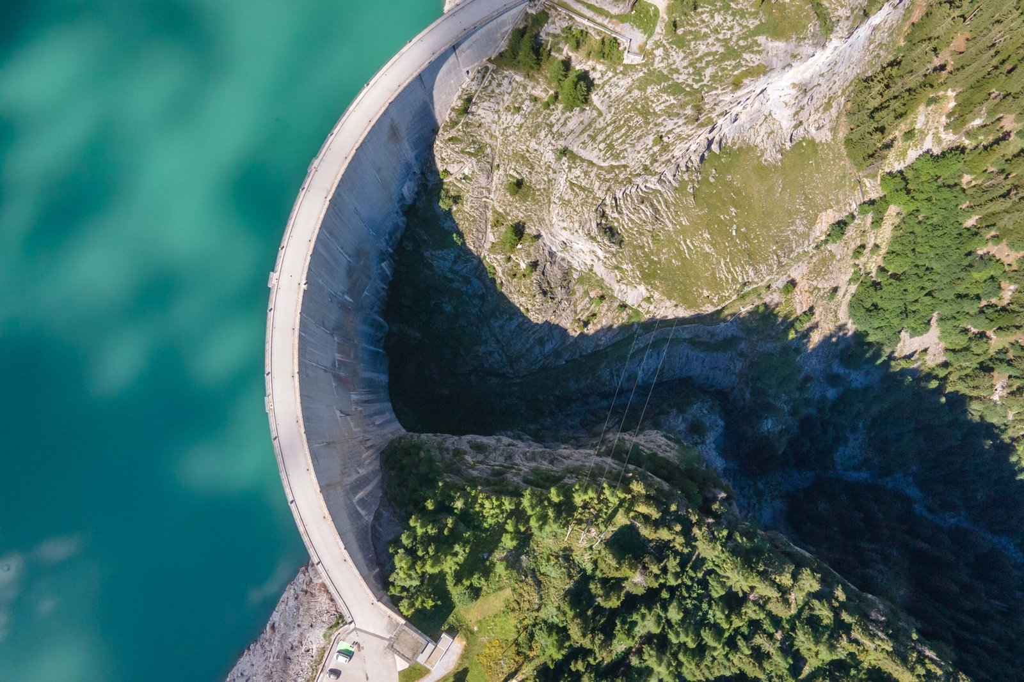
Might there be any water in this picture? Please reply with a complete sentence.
Yes, the picture does contain water.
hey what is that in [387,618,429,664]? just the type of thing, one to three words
building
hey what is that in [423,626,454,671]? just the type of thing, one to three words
building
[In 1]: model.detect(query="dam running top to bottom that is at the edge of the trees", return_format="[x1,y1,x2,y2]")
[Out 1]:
[262,0,532,623]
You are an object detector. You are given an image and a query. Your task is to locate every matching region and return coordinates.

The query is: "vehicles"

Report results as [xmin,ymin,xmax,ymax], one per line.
[333,653,350,667]
[325,670,340,682]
